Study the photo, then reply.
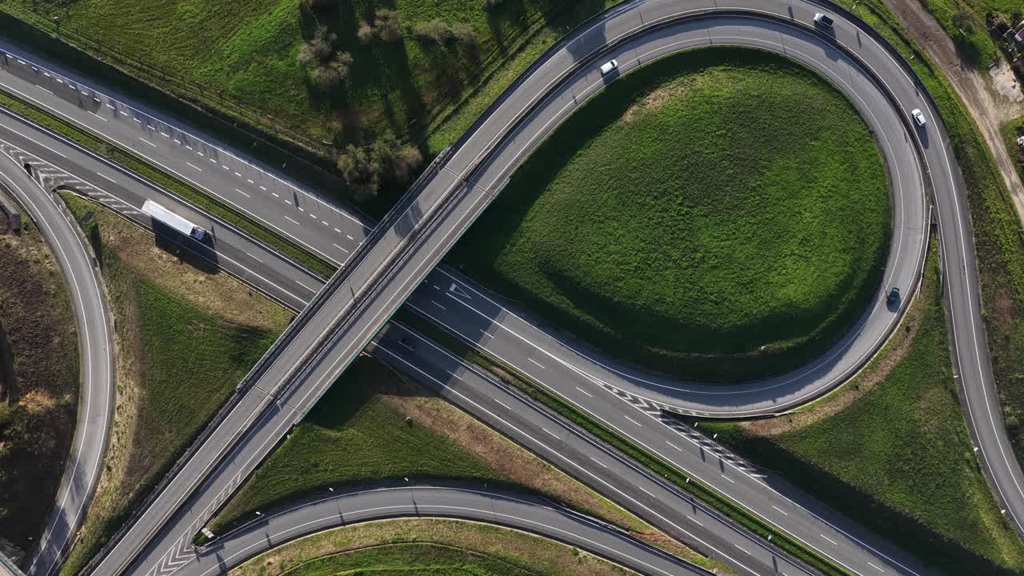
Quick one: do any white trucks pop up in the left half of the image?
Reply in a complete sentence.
Yes, you'll find a white truck in the left half of the image.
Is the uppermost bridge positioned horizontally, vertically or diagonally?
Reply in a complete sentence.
From this overhead view, the uppermost bridge appears to run diagonally.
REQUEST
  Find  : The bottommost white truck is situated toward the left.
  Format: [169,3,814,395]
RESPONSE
[141,203,209,245]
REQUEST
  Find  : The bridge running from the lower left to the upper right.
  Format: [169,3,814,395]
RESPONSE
[250,164,494,419]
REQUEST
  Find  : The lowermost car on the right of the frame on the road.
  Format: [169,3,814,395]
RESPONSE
[888,285,900,304]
